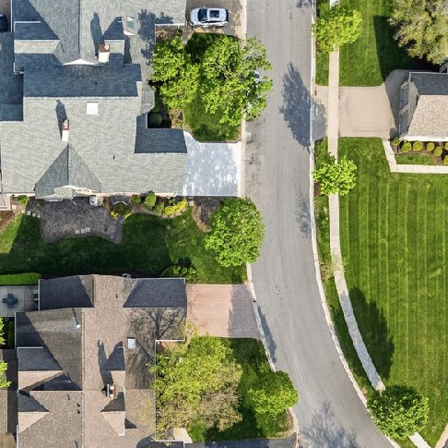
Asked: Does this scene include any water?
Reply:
No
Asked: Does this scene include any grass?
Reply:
Yes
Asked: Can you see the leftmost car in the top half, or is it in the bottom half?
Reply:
top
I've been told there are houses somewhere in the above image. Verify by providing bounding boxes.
[397,2,448,143]
[0,274,187,448]
[0,0,187,202]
